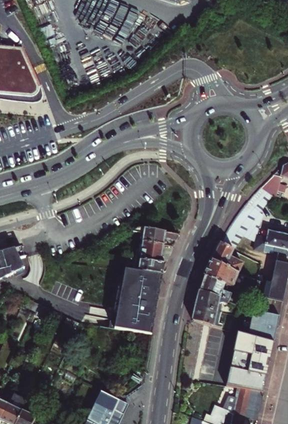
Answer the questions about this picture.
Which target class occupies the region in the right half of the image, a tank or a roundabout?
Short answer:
roundabout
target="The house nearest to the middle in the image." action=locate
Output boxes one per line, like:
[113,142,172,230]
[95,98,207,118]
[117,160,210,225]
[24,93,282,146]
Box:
[142,226,166,244]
